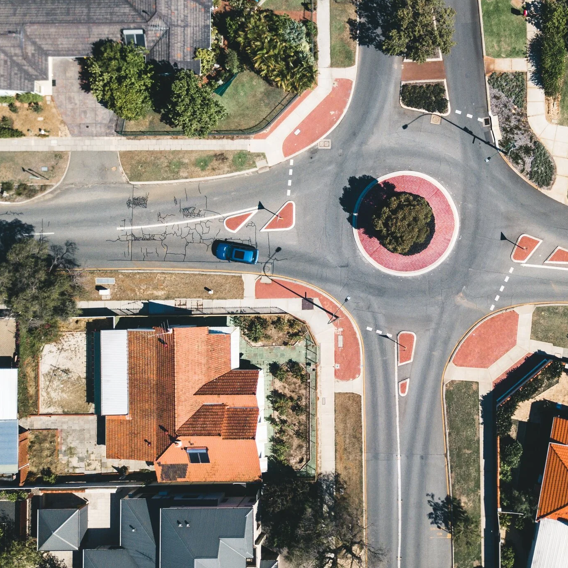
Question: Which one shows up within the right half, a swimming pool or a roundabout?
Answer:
roundabout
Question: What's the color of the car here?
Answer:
blue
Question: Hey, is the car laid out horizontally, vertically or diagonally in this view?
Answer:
horizontally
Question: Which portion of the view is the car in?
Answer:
center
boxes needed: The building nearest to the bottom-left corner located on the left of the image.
[36,501,89,551]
